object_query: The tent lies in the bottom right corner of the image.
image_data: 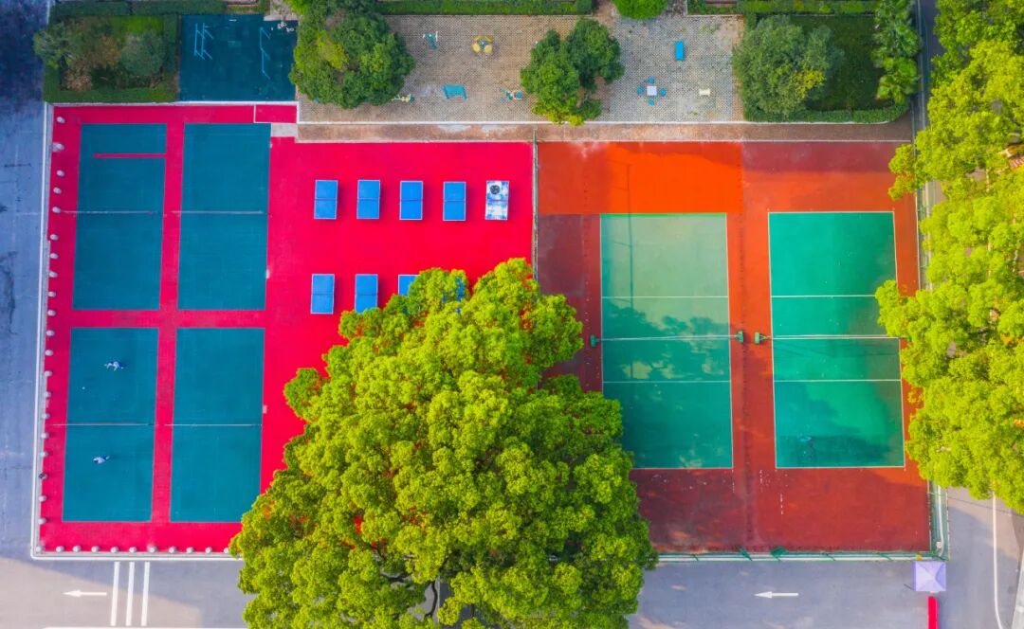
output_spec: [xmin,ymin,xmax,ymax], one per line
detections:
[888,554,945,592]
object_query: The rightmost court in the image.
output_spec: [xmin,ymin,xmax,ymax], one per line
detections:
[768,212,904,467]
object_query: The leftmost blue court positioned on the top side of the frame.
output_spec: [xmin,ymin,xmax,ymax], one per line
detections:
[72,124,166,310]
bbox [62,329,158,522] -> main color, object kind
blue sports court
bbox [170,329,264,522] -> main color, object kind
blue sports court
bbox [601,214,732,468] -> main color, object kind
green sports court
